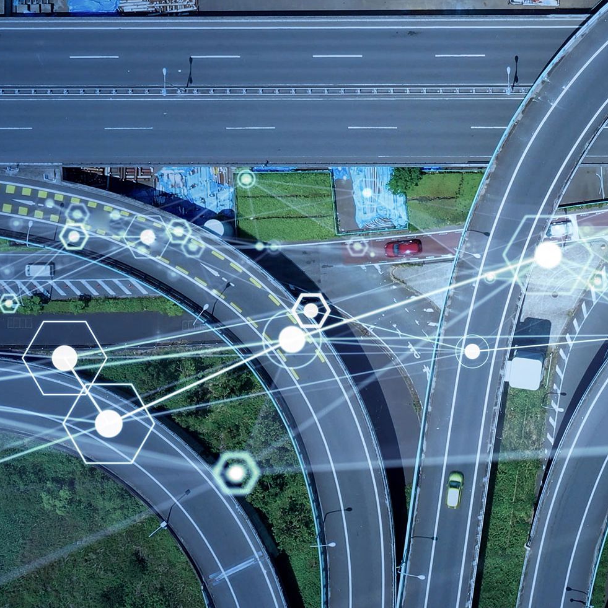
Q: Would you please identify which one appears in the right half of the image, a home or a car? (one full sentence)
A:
There is a car in the right half of the image.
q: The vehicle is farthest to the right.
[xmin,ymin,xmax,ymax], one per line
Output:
[543,221,575,237]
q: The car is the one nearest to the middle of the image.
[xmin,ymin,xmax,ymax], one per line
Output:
[385,239,423,257]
